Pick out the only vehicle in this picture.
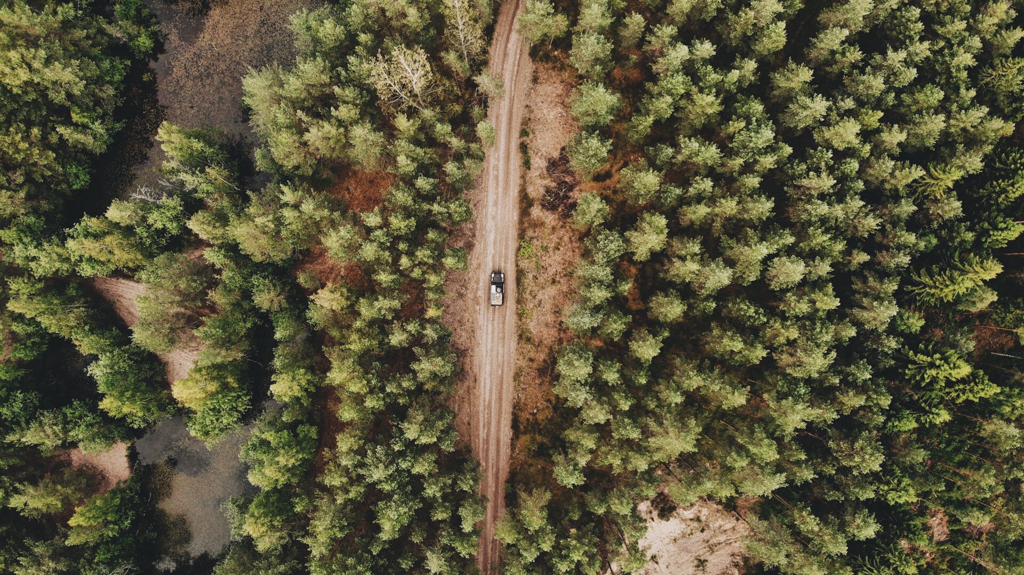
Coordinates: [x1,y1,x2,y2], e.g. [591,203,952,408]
[490,271,505,307]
